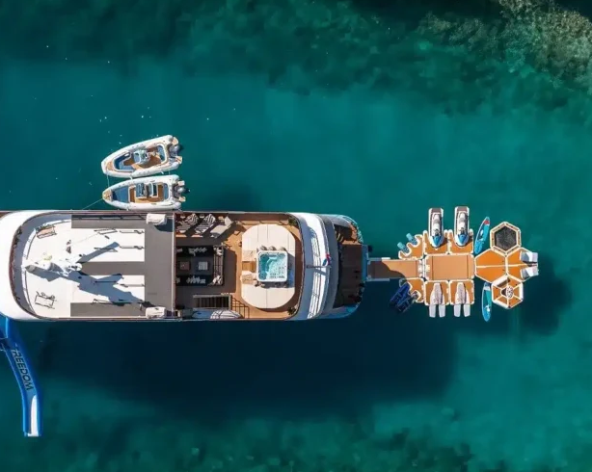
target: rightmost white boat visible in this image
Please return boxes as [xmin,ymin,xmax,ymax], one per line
[453,208,468,247]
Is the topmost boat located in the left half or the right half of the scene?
left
